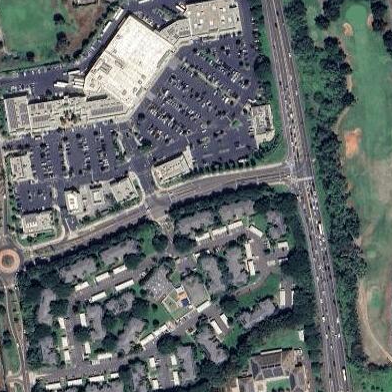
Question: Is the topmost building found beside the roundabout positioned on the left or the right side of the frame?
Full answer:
The topmost building found beside the roundabout is on the left side of the image.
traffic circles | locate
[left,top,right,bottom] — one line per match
[0,240,28,282]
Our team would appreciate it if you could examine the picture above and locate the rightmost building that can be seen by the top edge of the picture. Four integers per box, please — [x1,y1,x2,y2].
[184,0,240,41]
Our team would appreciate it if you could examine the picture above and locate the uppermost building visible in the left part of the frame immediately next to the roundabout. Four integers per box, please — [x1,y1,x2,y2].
[22,211,53,238]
